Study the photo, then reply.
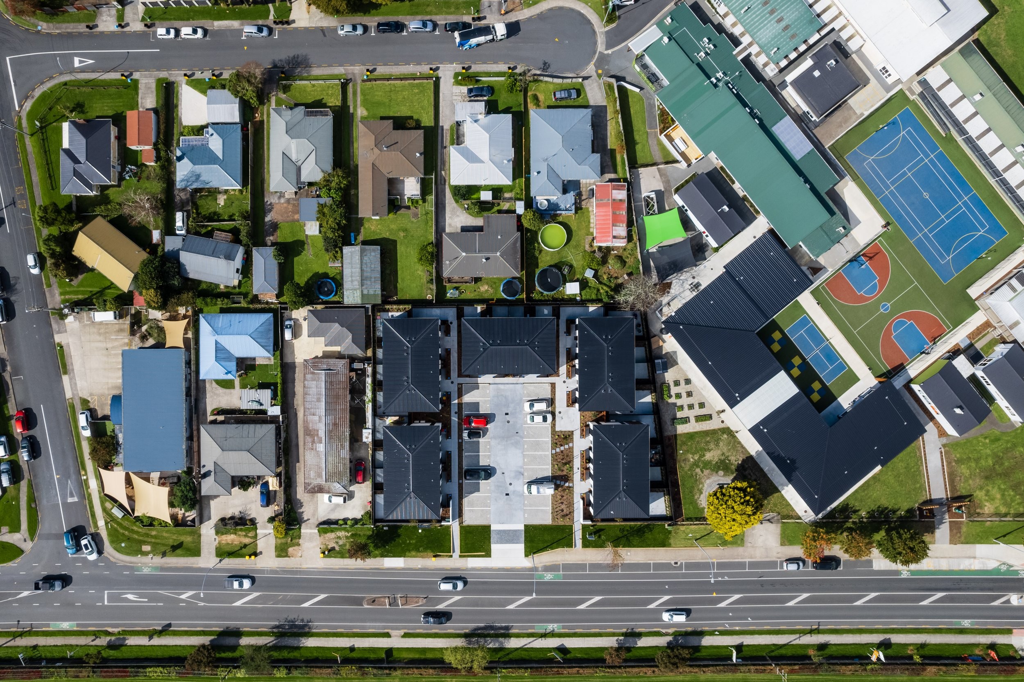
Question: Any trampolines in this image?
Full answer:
Yes, there's a trampoline here.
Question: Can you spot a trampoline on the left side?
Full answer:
Yes, the scene does show a trampoline on the left side.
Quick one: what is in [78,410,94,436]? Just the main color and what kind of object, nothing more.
white car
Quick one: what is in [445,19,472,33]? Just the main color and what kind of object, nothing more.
black car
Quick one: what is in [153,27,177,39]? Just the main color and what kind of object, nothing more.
white vehicle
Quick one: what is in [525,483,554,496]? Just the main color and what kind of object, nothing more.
white vehicle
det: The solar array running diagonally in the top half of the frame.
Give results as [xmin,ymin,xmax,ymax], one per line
[772,116,813,160]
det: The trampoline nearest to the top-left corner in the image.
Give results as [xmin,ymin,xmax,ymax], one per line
[314,278,336,299]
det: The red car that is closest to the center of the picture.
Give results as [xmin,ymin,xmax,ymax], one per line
[463,416,488,428]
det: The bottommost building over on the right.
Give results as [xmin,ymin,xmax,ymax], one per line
[590,421,650,519]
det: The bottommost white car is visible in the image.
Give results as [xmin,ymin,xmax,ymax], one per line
[662,609,687,623]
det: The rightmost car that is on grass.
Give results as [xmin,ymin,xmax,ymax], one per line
[552,87,577,102]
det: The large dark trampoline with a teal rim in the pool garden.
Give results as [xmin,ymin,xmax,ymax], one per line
[535,266,563,293]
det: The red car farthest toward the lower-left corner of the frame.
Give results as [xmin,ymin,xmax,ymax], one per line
[15,410,31,433]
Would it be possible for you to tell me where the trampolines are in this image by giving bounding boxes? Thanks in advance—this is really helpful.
[314,278,336,299]
[500,278,521,299]
[535,266,563,293]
